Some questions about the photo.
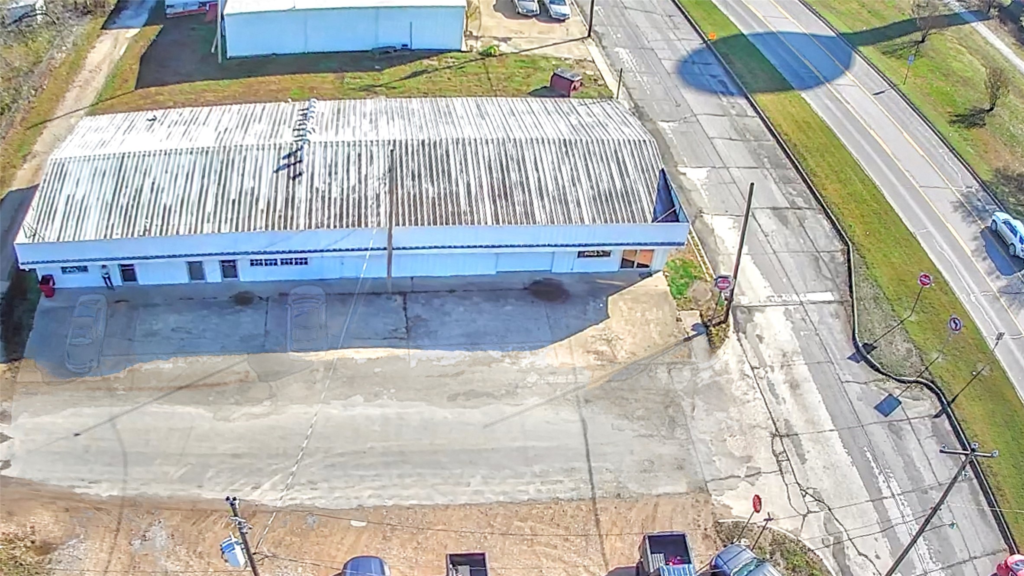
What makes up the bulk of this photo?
paved ground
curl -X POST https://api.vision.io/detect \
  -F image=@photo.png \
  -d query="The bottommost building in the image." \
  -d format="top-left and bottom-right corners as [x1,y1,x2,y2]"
[13,96,691,288]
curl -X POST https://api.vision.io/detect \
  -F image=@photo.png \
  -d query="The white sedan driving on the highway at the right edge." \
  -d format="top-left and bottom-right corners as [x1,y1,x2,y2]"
[991,218,1024,261]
